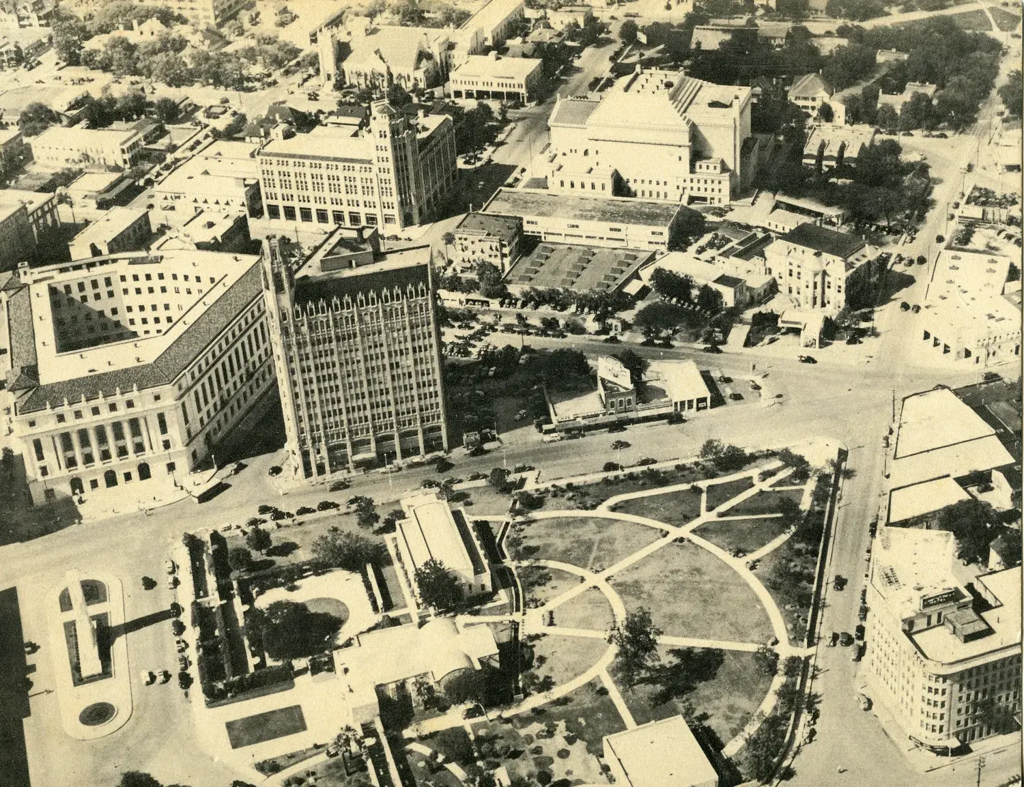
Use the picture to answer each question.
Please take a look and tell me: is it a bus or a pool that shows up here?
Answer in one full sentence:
There is a bus in the scene.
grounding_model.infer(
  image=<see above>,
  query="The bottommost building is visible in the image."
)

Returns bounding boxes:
[603,715,725,787]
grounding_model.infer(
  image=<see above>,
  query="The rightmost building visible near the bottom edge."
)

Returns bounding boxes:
[869,528,1024,762]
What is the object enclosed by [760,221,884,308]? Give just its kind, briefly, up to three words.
house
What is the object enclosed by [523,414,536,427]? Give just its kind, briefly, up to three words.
vehicle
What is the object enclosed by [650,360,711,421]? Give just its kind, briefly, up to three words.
building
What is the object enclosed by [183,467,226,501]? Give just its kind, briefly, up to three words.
bus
